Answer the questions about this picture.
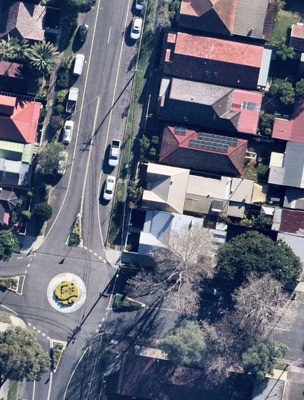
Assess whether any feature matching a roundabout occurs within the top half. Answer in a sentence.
No, the scene shows no roundabout within the top half.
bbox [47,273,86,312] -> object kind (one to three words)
roundabout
